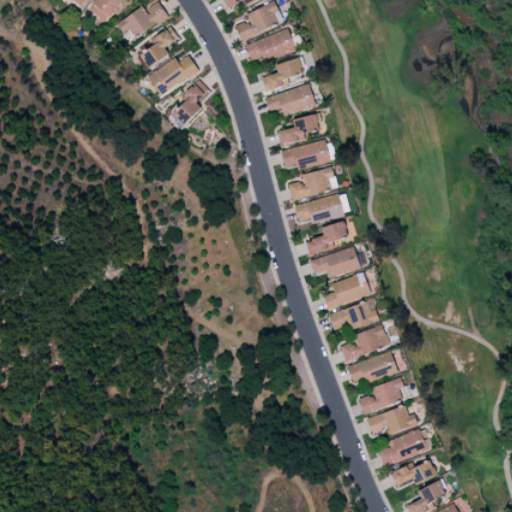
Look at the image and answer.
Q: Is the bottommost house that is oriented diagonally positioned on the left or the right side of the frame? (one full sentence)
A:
You can find the bottommost house that is oriented diagonally on the right side of the picture.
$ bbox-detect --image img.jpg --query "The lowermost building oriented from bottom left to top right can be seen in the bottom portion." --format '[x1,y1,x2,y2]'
[406,478,448,512]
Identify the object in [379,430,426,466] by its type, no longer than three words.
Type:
house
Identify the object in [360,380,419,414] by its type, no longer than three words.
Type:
house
